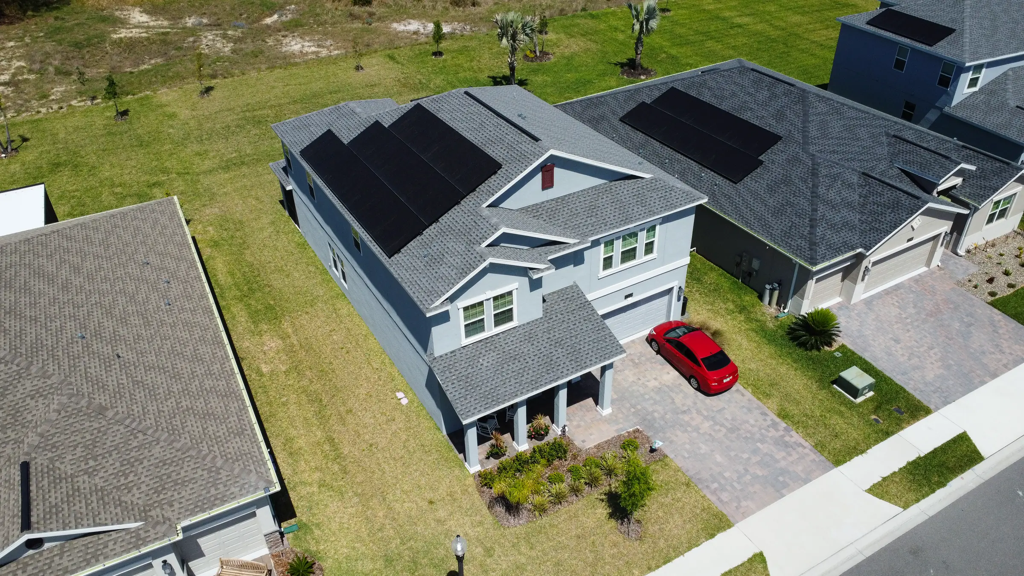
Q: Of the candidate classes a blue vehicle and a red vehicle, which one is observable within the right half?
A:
red vehicle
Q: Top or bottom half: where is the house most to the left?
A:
bottom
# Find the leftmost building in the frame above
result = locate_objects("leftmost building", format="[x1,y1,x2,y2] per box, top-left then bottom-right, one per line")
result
[0,185,283,576]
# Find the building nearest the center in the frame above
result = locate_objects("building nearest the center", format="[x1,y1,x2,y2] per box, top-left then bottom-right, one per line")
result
[269,84,712,473]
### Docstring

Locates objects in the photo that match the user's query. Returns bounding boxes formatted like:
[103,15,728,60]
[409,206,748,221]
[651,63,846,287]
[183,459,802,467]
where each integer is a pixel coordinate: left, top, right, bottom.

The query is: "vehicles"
[651,319,743,395]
